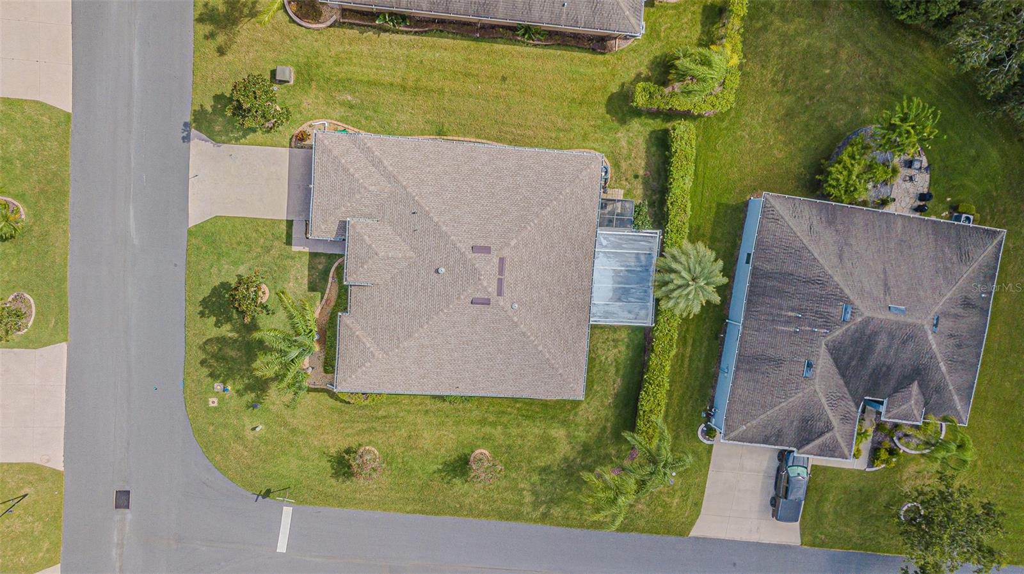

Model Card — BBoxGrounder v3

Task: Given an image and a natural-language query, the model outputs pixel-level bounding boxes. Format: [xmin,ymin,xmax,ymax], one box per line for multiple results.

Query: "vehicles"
[770,448,810,523]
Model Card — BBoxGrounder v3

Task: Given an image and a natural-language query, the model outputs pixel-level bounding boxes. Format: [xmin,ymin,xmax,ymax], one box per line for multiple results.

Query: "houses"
[309,121,603,399]
[320,0,645,50]
[711,190,1006,461]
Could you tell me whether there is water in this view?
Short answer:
No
